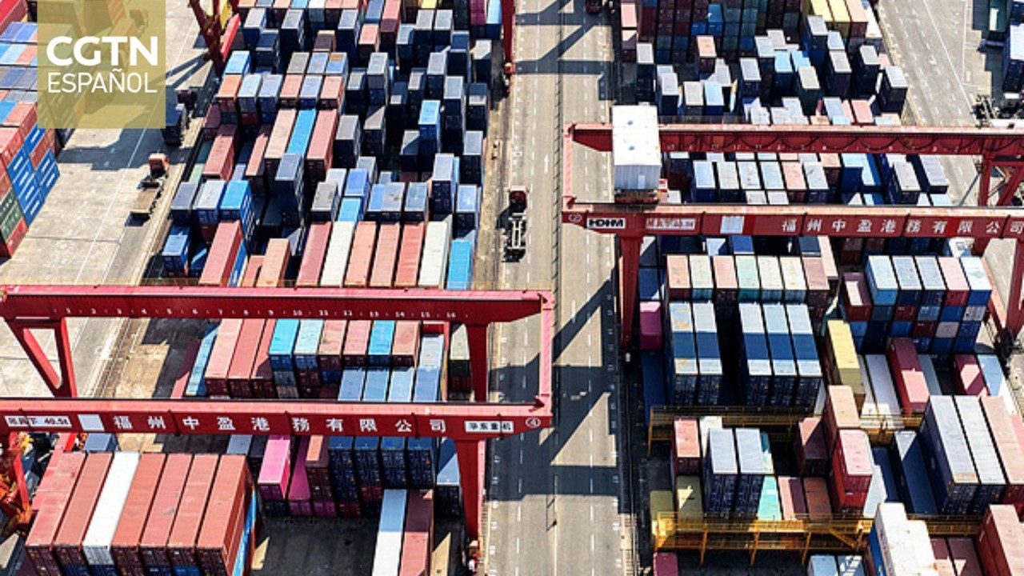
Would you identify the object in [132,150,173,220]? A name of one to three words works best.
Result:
truck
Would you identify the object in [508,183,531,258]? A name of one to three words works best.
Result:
truck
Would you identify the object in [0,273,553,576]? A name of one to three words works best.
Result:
container crane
